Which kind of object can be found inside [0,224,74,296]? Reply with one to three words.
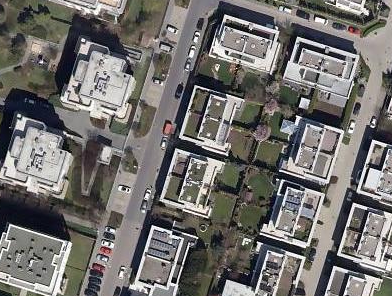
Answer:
building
